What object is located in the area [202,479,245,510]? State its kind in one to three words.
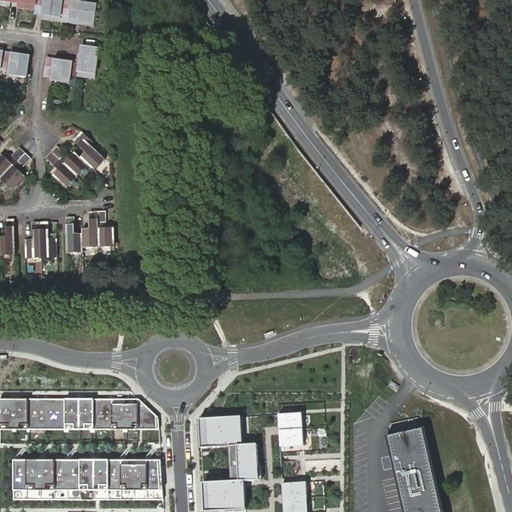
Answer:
building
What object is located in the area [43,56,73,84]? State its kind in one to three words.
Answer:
house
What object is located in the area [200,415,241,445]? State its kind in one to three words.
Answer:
building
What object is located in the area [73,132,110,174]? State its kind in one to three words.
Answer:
house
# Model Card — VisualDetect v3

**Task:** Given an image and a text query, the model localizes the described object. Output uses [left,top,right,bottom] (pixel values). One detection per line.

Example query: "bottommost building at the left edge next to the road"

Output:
[12,458,162,500]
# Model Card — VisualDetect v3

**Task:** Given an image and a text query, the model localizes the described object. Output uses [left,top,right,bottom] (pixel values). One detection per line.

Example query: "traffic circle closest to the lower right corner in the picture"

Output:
[384,248,512,404]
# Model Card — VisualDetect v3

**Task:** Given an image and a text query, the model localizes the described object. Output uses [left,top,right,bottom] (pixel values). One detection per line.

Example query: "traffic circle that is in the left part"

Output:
[139,332,210,403]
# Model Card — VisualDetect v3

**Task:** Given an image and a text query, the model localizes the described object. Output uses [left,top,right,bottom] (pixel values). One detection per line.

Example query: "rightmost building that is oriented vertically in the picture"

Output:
[386,426,441,512]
